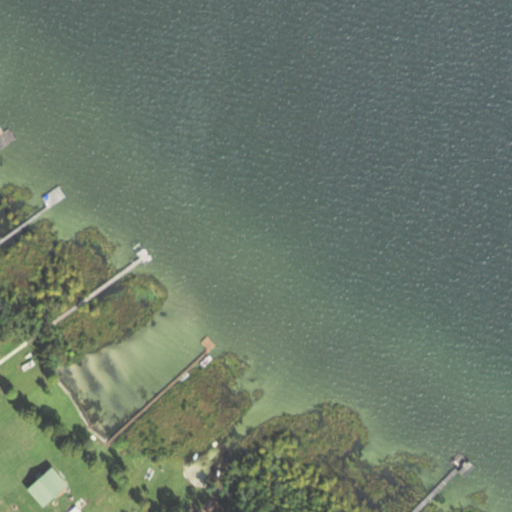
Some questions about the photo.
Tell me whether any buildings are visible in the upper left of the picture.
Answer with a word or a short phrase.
No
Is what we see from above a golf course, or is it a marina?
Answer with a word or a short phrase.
marina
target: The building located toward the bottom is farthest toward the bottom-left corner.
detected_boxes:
[26,469,68,509]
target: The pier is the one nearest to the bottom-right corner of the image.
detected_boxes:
[410,461,475,512]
